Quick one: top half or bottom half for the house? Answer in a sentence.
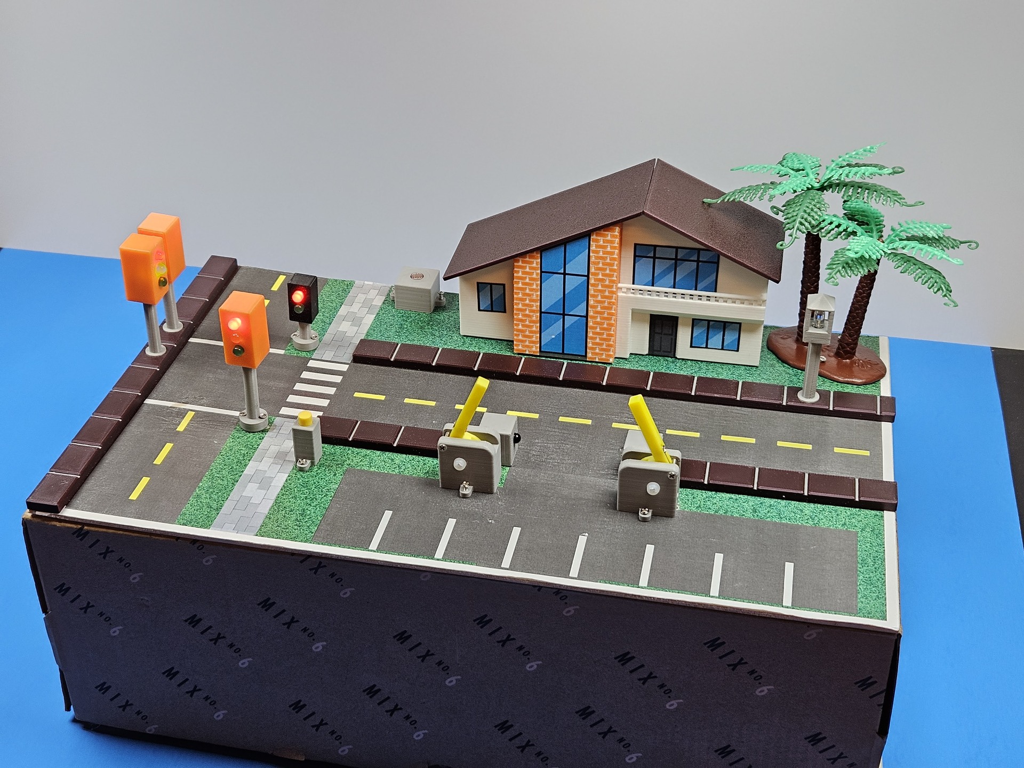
The house is in the top half of the image.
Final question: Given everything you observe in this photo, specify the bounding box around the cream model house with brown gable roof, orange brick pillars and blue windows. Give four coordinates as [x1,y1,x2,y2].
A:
[442,162,786,367]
